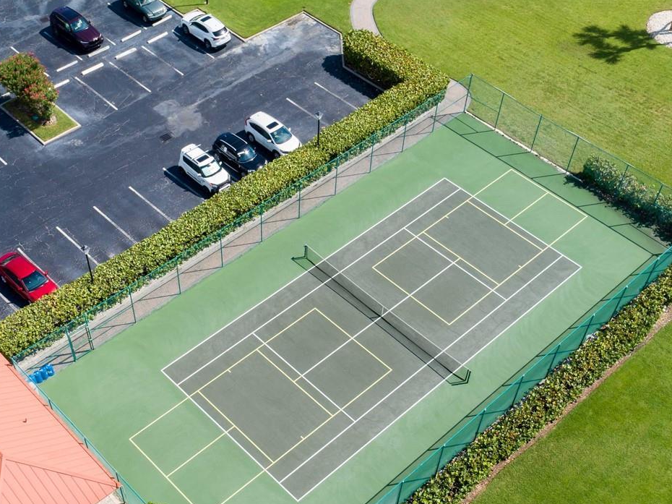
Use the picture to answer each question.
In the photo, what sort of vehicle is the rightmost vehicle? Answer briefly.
automobile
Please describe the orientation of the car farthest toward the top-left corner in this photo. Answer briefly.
on a diagonal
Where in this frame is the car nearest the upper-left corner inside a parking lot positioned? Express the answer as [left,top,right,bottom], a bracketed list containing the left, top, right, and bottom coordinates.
[47,7,98,52]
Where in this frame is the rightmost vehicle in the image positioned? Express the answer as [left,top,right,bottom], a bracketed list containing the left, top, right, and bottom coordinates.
[244,110,303,158]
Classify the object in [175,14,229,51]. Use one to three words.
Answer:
car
